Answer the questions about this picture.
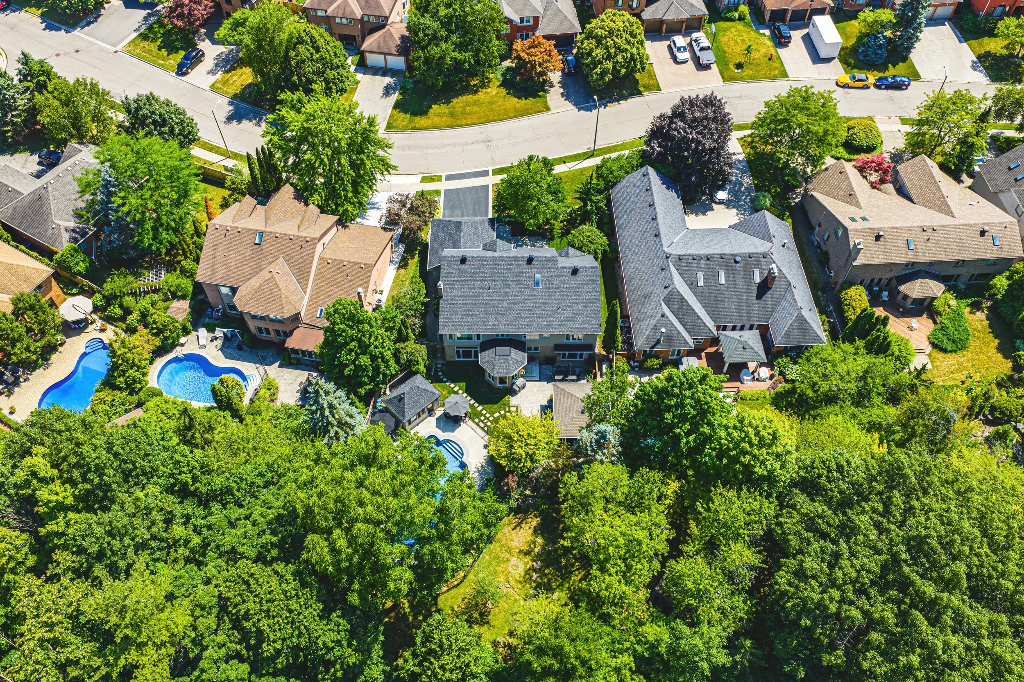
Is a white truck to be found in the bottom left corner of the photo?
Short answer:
No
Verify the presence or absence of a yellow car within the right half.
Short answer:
Yes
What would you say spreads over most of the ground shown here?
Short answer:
trees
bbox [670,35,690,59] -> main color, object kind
white car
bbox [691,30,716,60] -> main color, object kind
white truck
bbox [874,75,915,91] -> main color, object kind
blue car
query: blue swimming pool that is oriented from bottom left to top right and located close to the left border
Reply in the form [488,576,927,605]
[39,338,110,419]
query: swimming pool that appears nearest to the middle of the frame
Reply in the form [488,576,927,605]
[401,435,468,481]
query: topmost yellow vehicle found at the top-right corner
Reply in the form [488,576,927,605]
[836,74,877,90]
